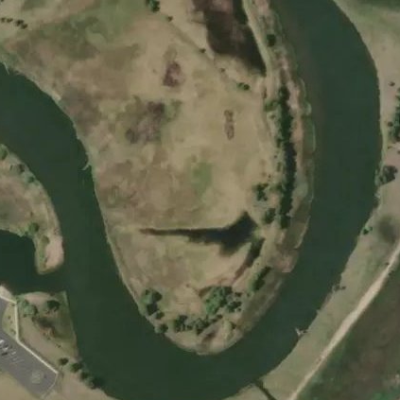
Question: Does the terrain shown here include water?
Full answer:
Yes, water shows up in the scene.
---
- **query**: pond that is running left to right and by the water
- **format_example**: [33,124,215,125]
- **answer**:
[136,213,257,254]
